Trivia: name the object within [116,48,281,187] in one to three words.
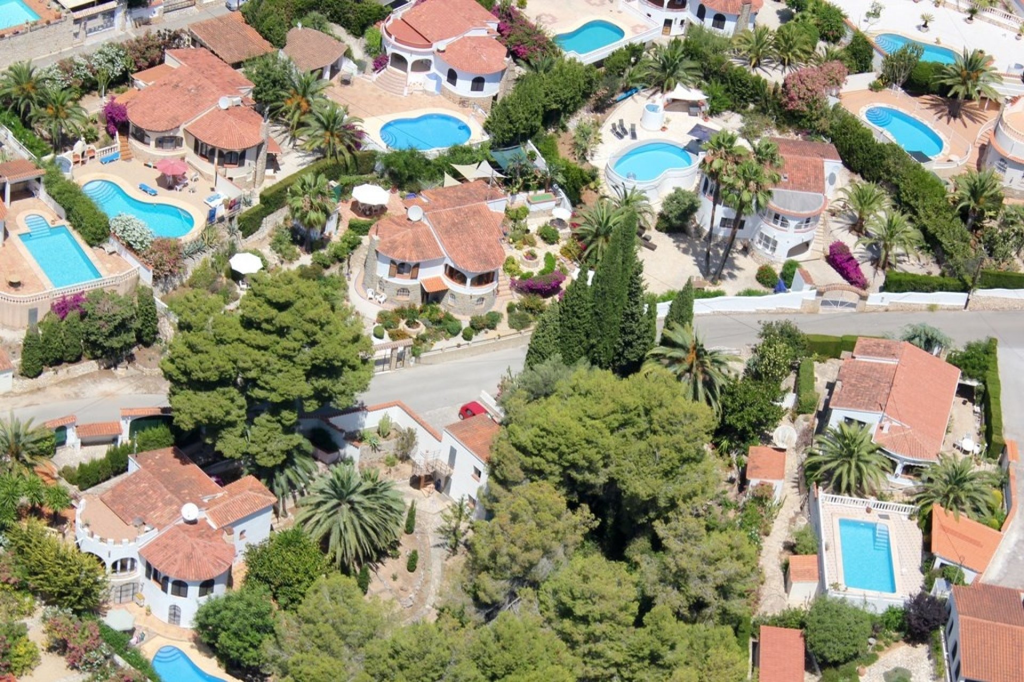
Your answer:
house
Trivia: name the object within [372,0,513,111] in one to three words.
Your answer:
house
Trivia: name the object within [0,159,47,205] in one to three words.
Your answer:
building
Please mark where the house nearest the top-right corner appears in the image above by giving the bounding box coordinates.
[973,102,1024,181]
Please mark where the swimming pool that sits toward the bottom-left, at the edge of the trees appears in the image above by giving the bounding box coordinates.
[143,639,242,682]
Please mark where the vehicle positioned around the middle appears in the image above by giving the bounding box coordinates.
[459,402,497,420]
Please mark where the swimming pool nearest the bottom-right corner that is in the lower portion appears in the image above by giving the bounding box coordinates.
[830,512,907,601]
